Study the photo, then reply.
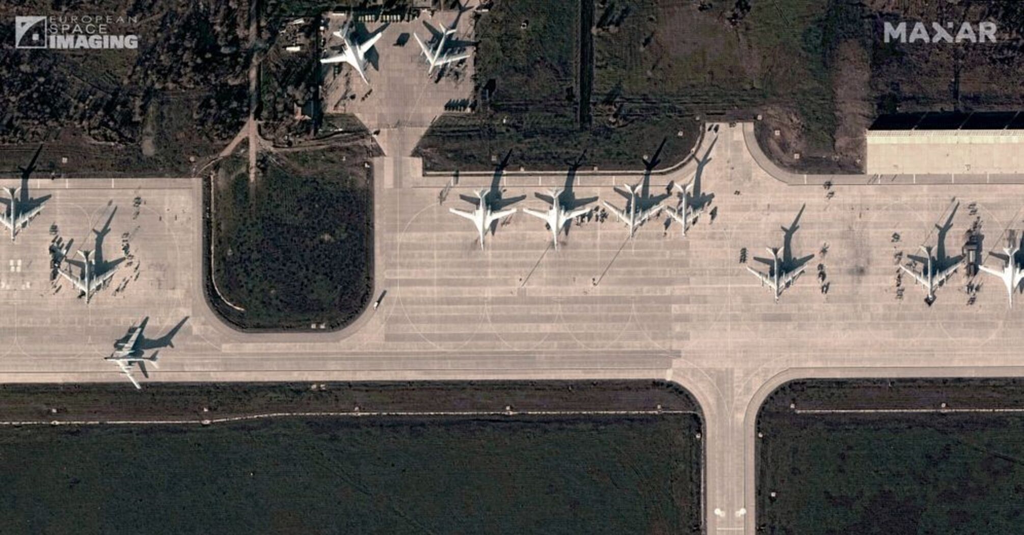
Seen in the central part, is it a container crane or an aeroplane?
aeroplane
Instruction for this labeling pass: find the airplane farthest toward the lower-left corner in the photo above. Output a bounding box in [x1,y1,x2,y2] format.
[104,330,159,388]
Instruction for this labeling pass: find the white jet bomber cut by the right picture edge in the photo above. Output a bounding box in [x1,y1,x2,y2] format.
[978,247,1024,306]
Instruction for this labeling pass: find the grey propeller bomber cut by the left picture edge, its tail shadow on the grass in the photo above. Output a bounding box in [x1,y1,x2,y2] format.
[0,184,42,239]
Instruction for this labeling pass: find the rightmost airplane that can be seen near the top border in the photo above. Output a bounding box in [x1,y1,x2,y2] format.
[414,21,470,74]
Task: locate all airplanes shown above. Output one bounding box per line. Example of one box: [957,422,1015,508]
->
[665,180,702,235]
[746,246,805,300]
[57,249,116,303]
[900,246,959,300]
[0,184,42,239]
[450,190,516,248]
[978,247,1024,306]
[523,189,589,248]
[414,21,470,74]
[603,180,662,236]
[104,330,159,388]
[321,27,382,85]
